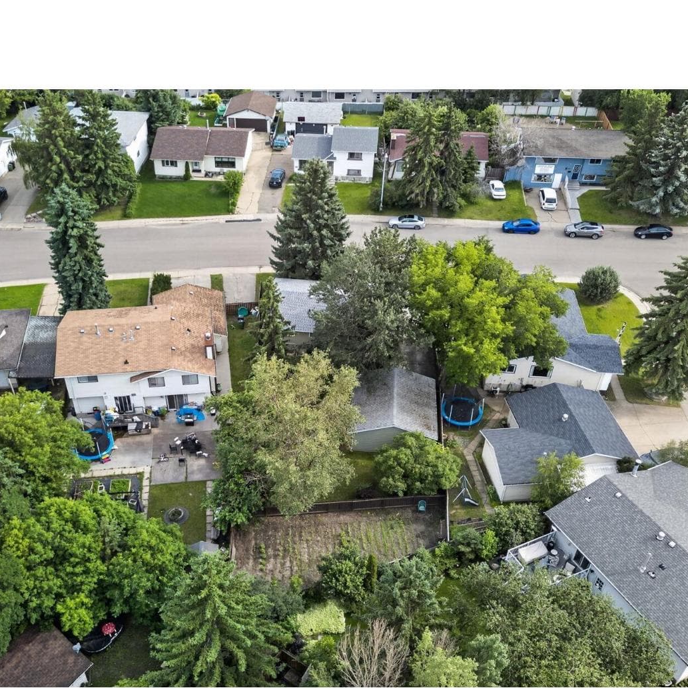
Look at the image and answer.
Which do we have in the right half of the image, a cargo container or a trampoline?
trampoline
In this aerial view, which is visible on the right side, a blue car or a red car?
blue car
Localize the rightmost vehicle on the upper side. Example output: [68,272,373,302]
[634,224,677,240]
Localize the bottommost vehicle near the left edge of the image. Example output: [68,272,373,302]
[33,376,54,388]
